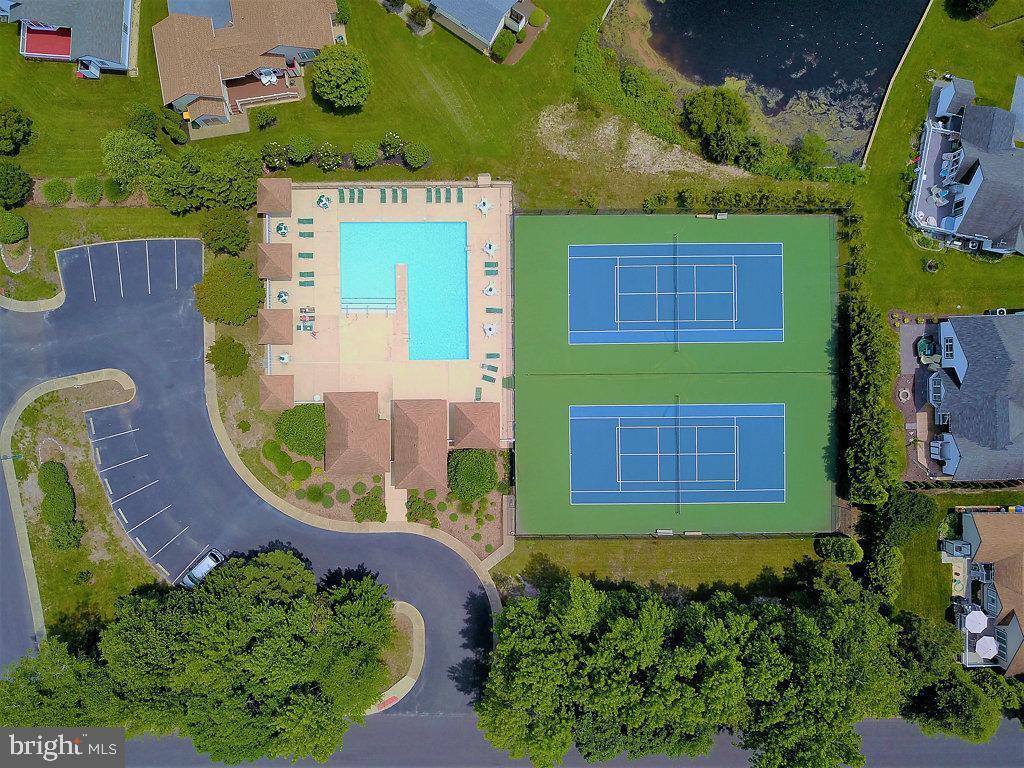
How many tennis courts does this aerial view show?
two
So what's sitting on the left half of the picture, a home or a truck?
home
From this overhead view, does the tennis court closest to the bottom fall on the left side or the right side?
right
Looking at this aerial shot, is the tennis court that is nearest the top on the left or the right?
right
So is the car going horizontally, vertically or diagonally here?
diagonally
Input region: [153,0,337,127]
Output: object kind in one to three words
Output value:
house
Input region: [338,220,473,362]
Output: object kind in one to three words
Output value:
swimming pool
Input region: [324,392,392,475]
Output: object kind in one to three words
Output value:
building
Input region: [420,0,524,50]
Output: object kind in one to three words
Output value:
house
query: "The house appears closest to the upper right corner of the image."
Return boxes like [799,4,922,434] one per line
[908,79,1024,255]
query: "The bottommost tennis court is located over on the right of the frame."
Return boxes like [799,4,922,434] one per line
[516,374,838,535]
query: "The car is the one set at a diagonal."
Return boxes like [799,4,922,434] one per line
[181,549,224,591]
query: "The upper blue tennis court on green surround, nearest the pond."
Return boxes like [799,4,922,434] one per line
[515,213,836,374]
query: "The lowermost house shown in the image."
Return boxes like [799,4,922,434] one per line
[946,512,1024,672]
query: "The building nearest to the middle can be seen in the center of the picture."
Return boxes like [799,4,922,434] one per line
[455,402,501,447]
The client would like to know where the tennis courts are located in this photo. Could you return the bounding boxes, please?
[515,213,836,374]
[516,374,838,535]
